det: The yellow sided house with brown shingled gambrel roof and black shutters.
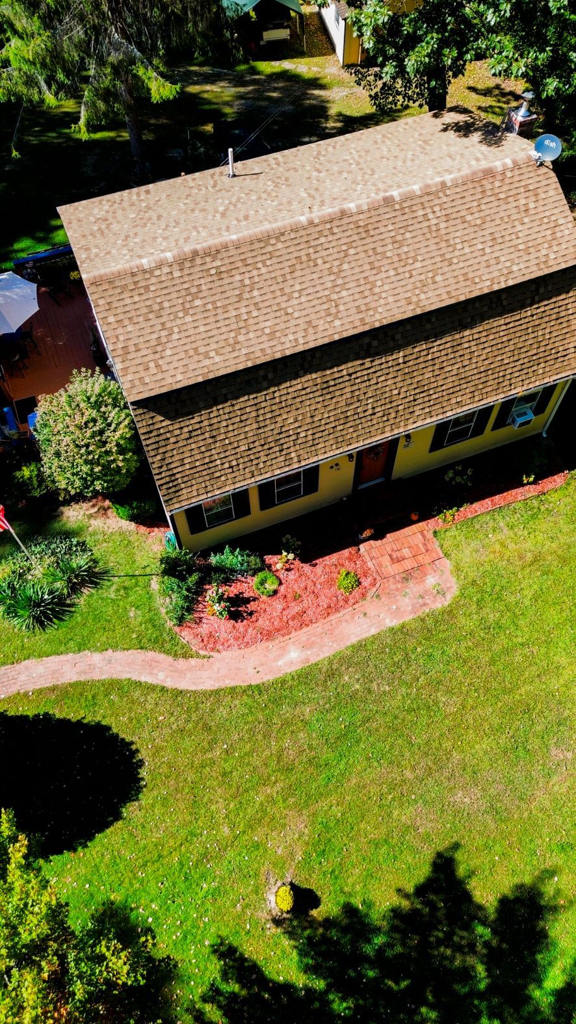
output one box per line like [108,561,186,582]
[57,86,576,551]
